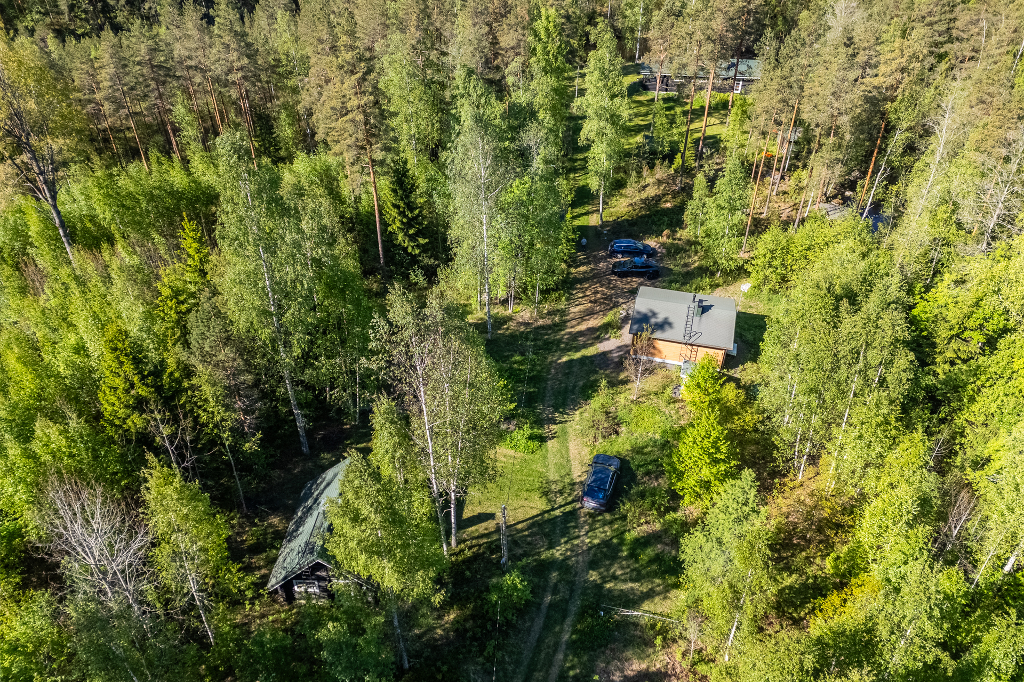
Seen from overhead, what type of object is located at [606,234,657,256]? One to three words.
car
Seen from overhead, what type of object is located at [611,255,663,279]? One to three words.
car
